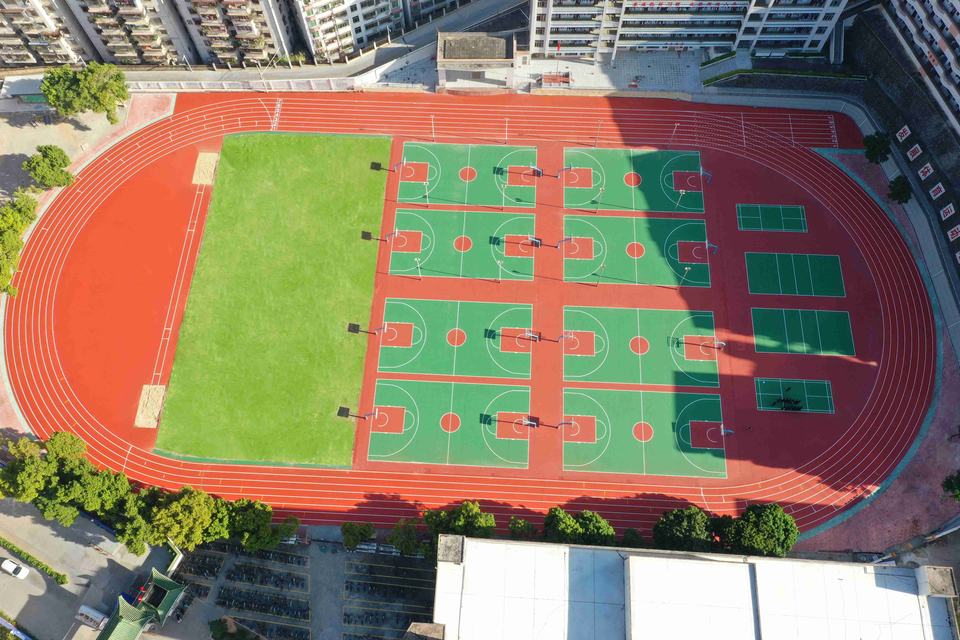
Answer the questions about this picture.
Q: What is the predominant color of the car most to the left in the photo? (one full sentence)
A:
The car most to the left looks white in the image.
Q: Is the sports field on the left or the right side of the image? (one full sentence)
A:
The sports field appears in the left half of the scene.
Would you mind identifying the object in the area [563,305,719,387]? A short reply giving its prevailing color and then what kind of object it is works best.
green basketball court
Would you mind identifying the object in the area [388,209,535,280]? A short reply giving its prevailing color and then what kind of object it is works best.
green basketball court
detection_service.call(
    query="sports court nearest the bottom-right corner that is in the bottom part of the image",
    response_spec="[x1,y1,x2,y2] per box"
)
[755,378,834,413]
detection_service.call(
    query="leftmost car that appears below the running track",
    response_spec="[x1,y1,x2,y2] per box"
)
[0,558,30,581]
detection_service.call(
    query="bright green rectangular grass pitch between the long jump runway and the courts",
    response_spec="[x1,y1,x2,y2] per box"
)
[154,130,391,469]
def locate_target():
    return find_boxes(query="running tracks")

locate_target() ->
[0,92,944,543]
